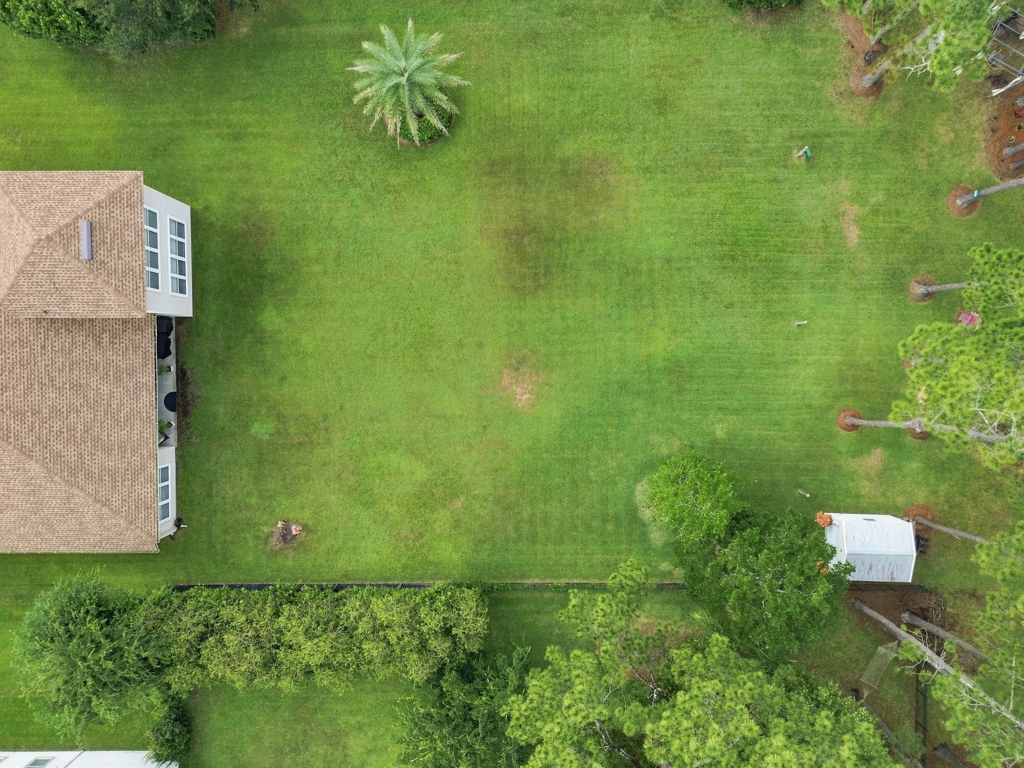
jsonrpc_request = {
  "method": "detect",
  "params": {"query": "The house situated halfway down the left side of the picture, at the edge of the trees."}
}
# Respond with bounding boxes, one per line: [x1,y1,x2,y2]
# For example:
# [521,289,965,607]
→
[0,170,193,553]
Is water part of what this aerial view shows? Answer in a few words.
No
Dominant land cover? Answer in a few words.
grass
